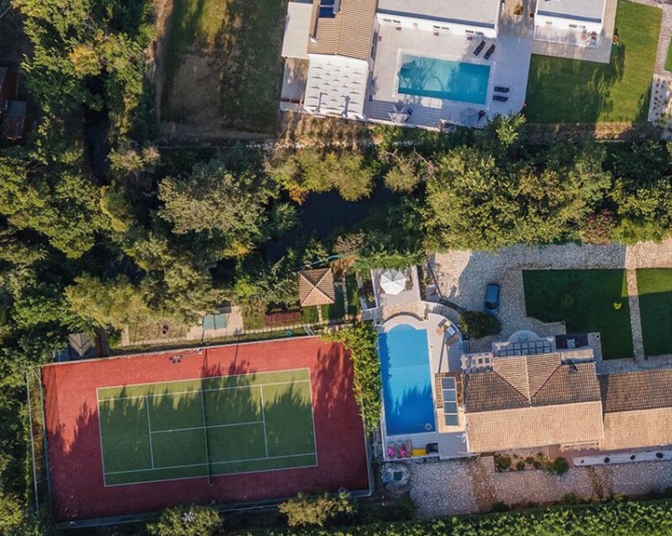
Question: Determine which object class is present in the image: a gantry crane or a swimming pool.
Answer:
swimming pool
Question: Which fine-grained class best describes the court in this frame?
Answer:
tennis court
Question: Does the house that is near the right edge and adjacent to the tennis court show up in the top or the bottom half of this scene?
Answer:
bottom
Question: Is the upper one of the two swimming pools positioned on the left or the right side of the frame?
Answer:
right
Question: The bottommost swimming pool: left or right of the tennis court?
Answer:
to its right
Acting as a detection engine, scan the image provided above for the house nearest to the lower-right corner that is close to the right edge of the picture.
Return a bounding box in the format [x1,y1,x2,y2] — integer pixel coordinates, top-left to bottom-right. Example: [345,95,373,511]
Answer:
[435,330,672,467]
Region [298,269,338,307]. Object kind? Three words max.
gazebo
